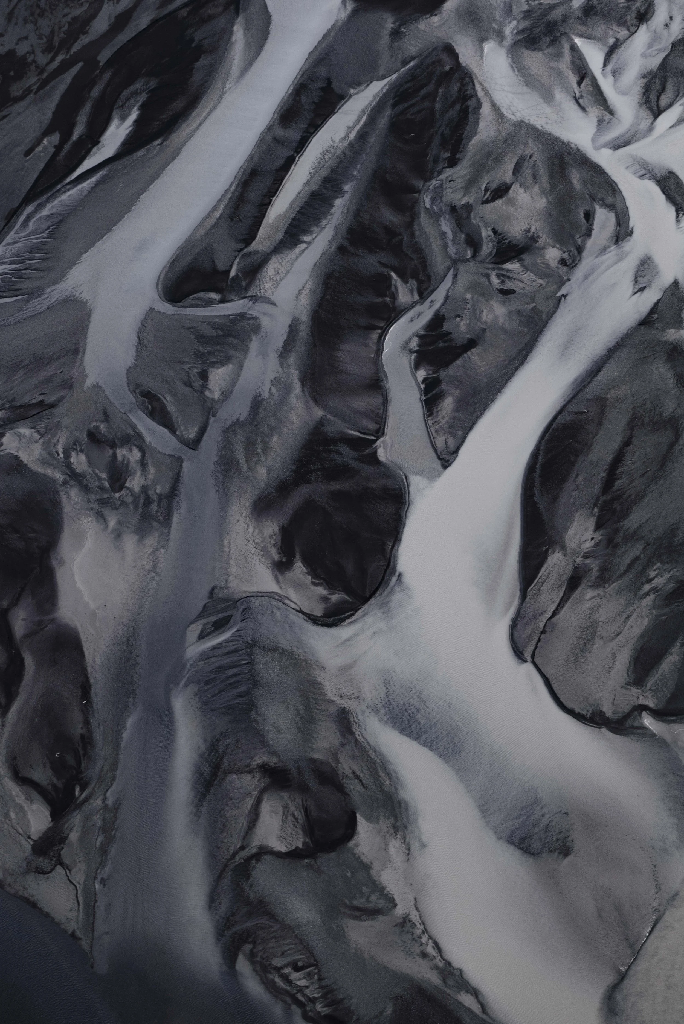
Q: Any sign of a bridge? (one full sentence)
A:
No, I can see no bridge in this picture.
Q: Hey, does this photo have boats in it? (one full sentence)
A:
No, no boat is visible in the scene.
